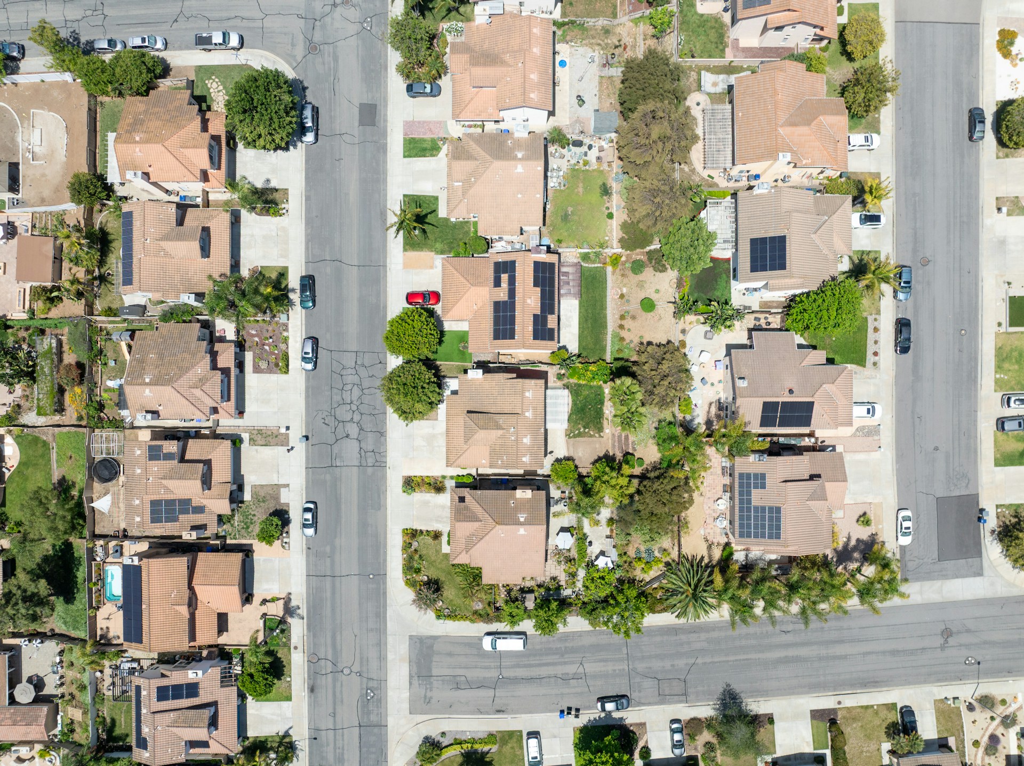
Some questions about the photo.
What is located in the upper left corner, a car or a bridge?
car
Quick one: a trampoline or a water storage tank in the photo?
trampoline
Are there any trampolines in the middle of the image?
No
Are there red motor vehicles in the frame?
Yes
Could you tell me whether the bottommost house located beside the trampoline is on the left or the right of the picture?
left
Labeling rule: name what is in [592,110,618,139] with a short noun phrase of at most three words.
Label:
shed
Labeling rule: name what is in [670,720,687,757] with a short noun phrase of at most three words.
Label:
car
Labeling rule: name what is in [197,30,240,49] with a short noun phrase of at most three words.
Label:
vehicle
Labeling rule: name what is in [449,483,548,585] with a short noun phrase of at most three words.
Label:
house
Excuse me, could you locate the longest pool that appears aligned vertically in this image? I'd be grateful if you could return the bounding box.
[104,565,121,603]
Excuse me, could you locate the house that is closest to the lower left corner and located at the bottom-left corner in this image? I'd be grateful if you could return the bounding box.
[0,648,60,742]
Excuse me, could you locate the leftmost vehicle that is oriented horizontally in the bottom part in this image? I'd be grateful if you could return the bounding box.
[483,632,527,653]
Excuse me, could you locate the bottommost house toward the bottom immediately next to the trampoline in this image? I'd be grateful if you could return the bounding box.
[123,439,240,539]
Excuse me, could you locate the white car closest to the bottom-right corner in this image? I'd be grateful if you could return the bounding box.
[896,509,915,545]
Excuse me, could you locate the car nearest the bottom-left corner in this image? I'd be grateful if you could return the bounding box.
[300,501,318,537]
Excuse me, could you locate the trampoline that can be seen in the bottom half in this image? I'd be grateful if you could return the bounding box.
[89,457,119,485]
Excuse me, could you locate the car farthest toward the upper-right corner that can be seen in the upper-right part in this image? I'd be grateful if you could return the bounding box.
[967,107,988,143]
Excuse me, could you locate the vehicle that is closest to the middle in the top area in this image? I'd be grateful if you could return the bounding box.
[407,289,439,306]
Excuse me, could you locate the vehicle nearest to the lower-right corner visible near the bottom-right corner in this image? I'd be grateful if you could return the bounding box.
[899,702,921,738]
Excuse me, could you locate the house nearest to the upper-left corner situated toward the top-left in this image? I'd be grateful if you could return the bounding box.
[109,90,231,194]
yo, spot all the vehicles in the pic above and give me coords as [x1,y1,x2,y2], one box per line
[899,702,921,738]
[595,694,631,713]
[526,731,543,766]
[670,720,687,757]
[300,336,318,371]
[895,265,914,301]
[995,416,1024,433]
[93,36,126,54]
[129,33,166,52]
[483,632,527,653]
[298,274,316,310]
[854,402,886,419]
[406,79,441,98]
[197,30,240,49]
[1001,394,1024,408]
[967,107,988,143]
[896,509,915,545]
[848,131,883,150]
[407,289,439,306]
[894,319,913,354]
[300,105,318,142]
[300,501,318,537]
